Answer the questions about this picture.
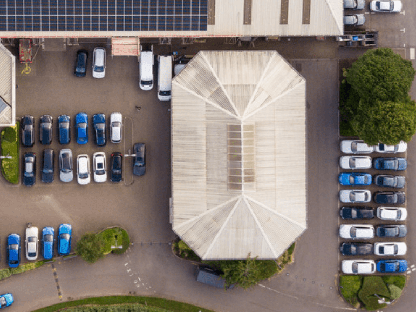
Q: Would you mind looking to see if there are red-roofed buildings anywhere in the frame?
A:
No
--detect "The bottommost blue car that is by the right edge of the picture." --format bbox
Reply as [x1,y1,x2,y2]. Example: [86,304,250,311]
[375,258,407,275]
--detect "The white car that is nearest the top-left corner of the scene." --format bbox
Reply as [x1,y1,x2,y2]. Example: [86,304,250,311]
[91,47,106,79]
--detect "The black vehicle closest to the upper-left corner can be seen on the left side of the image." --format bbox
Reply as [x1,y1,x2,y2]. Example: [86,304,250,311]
[73,50,88,77]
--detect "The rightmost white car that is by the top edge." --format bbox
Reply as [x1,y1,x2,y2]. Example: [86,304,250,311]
[369,0,402,13]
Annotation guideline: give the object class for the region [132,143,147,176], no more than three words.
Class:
car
